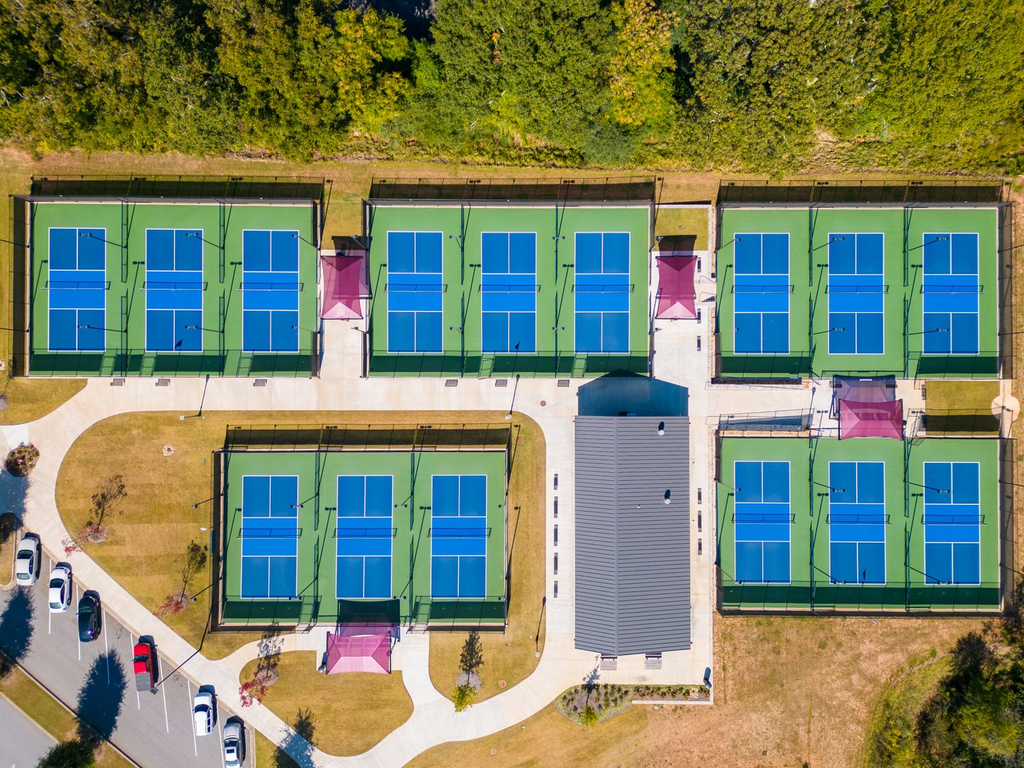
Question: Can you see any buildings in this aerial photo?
Yes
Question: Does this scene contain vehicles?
Yes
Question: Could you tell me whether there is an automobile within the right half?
No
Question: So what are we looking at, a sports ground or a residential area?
sports ground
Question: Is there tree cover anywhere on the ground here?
Yes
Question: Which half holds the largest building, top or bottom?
bottom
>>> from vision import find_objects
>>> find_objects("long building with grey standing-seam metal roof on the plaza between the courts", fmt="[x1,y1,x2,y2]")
[572,417,692,656]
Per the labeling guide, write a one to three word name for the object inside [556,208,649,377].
sports court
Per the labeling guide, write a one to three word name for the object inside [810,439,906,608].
sports court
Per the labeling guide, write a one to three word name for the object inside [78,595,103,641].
car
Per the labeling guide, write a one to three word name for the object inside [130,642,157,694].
truck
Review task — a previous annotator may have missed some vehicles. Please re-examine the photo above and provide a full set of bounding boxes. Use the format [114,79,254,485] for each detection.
[47,567,73,613]
[17,538,43,585]
[130,642,157,694]
[191,691,216,738]
[78,595,103,641]
[221,722,244,768]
